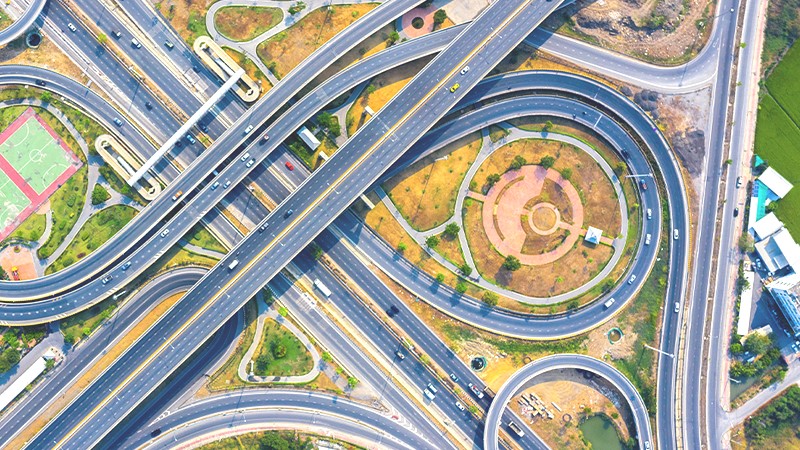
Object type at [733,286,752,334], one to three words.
shed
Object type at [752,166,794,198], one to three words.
building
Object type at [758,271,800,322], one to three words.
building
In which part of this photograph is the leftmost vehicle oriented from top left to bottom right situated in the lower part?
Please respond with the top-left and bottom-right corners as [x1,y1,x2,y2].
[314,281,332,298]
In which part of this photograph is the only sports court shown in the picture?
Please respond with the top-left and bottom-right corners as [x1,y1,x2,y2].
[0,107,84,241]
